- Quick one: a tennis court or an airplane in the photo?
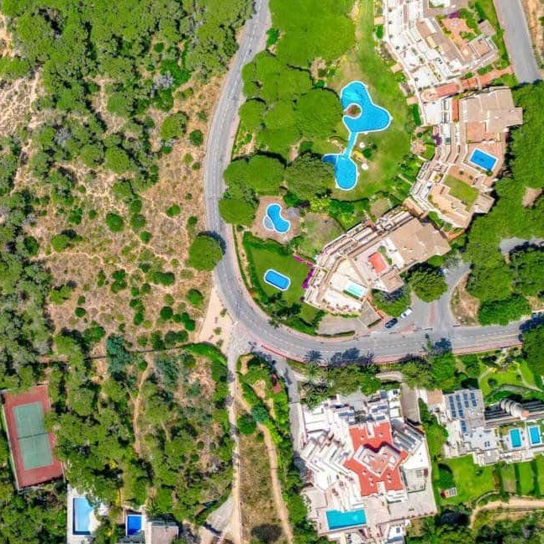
tennis court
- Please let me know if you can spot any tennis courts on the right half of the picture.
No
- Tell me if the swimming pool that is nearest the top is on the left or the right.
right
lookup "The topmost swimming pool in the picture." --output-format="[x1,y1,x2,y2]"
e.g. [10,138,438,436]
[338,79,392,134]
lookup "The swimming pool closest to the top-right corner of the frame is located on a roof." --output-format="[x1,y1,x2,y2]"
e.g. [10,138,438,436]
[466,146,502,172]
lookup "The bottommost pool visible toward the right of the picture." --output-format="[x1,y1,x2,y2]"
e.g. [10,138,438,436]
[323,507,368,529]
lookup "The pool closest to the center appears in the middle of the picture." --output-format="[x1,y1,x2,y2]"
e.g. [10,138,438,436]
[263,267,291,291]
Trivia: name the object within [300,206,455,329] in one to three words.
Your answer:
house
